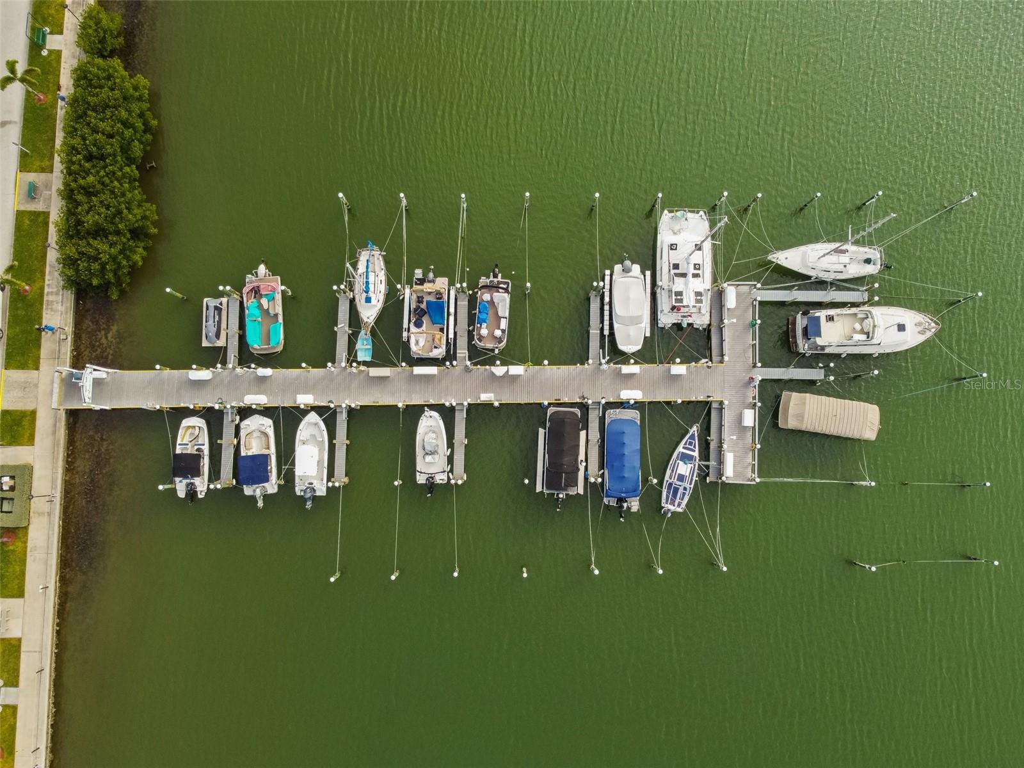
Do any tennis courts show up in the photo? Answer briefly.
No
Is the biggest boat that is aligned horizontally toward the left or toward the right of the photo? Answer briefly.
right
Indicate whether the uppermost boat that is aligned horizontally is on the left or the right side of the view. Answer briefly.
right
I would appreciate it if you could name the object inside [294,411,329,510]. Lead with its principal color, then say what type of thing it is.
white boat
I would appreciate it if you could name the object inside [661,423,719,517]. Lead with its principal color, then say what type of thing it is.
white boat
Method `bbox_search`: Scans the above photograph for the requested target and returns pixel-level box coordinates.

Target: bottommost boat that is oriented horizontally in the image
[776,391,881,440]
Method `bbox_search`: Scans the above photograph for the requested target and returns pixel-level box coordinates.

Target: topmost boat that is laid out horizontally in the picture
[766,213,896,282]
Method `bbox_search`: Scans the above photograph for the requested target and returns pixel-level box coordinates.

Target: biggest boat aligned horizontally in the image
[789,305,942,357]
